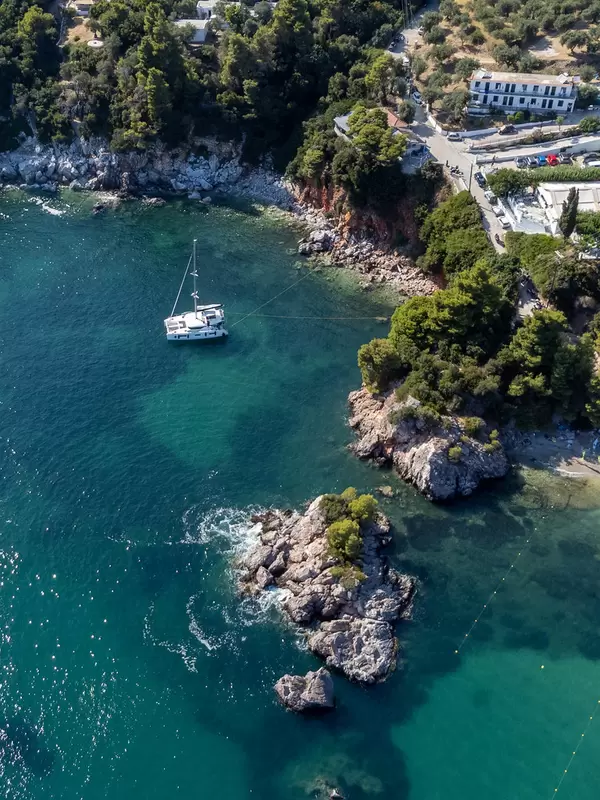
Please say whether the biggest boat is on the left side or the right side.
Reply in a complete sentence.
The biggest boat appears in the left half of the scene.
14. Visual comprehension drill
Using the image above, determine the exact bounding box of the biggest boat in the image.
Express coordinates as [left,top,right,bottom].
[166,237,229,338]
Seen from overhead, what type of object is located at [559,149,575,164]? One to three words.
car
